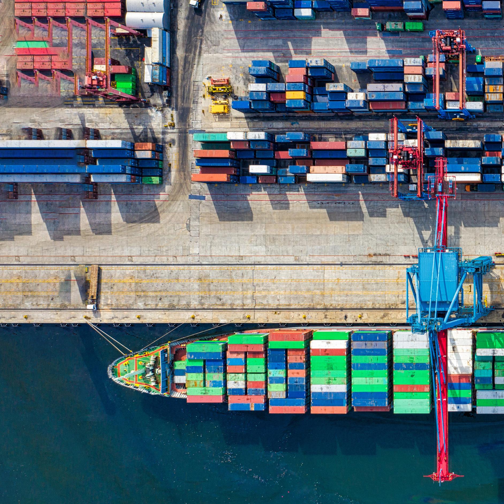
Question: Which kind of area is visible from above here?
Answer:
port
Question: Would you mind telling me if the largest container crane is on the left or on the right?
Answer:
right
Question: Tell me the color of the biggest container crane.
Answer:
blue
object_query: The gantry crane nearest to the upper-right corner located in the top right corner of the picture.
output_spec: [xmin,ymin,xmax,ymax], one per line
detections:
[430,29,476,119]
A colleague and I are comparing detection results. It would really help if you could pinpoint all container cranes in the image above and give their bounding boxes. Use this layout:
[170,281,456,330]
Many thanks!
[388,118,437,200]
[407,156,495,491]
[430,29,476,119]
[15,15,87,104]
[79,15,154,104]
[51,15,120,104]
